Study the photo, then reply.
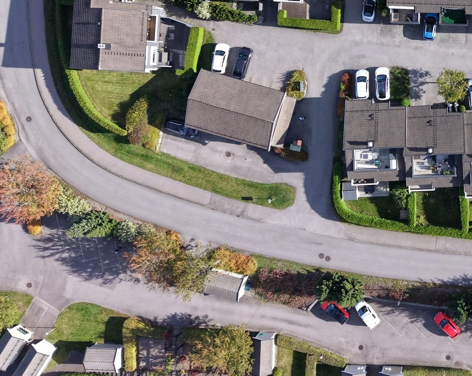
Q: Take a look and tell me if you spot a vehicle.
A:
Yes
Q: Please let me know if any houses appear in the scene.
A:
Yes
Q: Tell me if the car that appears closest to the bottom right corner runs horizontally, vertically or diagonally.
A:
diagonally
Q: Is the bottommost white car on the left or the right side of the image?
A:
right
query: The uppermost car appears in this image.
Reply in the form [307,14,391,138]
[362,0,377,21]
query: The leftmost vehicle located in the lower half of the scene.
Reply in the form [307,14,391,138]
[322,301,349,325]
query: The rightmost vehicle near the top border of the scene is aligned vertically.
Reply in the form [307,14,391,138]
[423,15,439,41]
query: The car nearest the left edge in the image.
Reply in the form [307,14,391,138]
[165,119,195,138]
